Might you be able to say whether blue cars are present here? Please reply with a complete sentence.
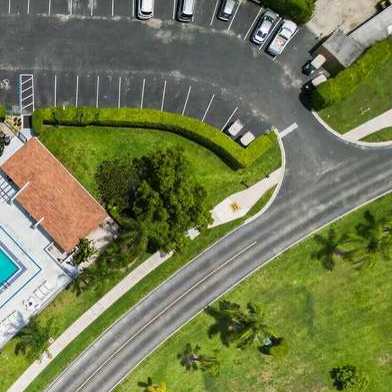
No, the frame has no blue car in it.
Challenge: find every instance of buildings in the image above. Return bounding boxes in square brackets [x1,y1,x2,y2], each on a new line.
[312,0,392,74]
[2,136,109,253]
